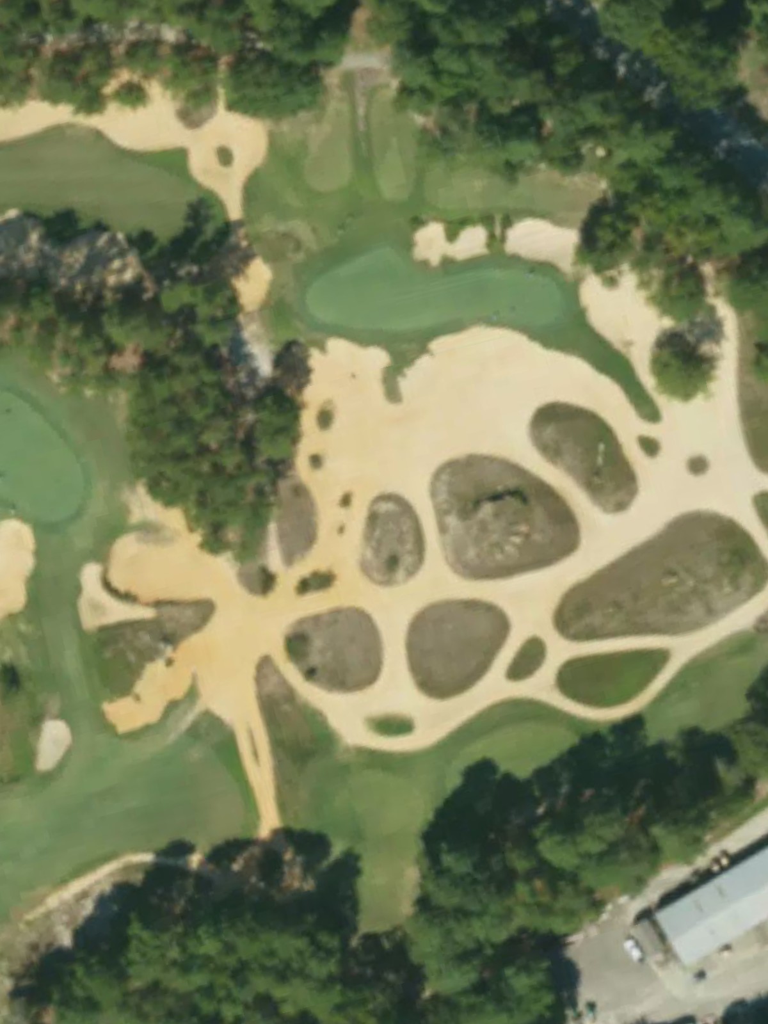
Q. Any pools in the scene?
No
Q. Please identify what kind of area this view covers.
golf course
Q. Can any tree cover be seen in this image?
Yes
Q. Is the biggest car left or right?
right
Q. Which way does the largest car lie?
at an angle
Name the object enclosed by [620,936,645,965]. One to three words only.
car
